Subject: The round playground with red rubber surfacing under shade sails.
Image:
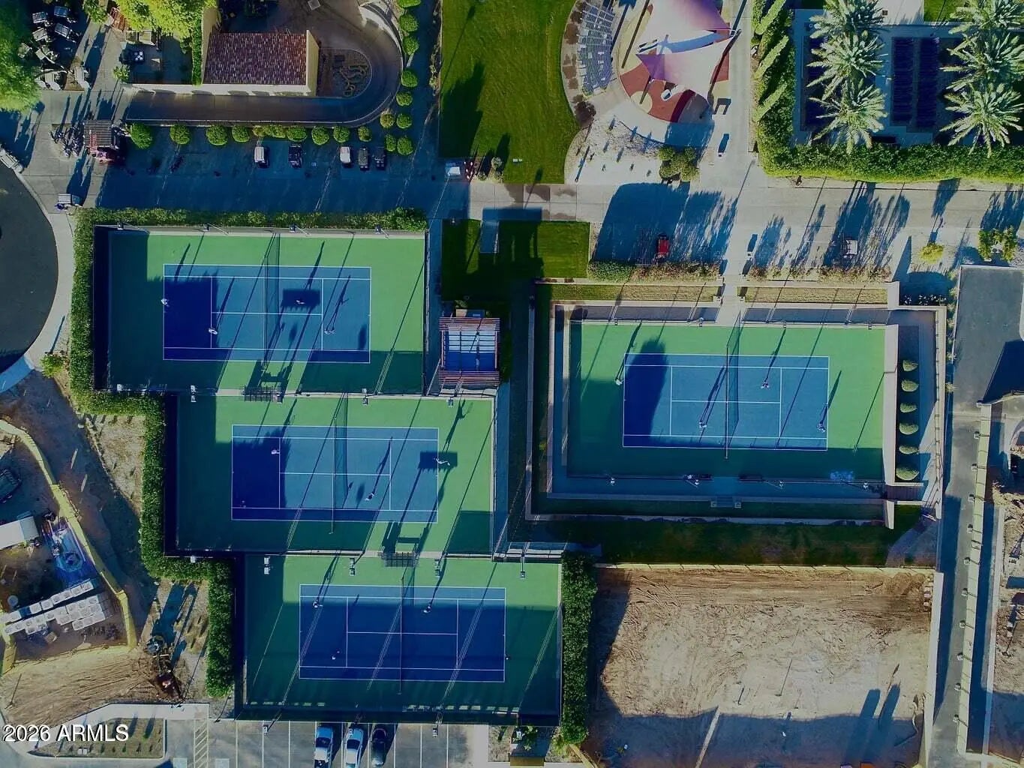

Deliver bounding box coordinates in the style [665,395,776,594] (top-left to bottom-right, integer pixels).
[617,0,739,123]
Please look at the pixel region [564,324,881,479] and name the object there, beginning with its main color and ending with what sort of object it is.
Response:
blue tennis court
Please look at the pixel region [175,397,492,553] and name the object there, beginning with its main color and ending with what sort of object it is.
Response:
blue tennis court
